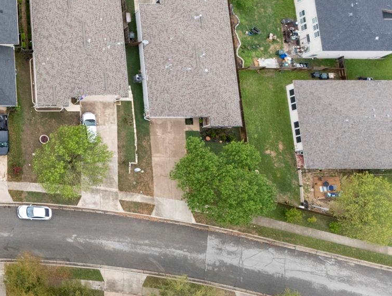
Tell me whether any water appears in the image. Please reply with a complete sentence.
No, there is no water in the image.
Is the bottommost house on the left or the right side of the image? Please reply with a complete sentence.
The bottommost house appears in the right half of the scene.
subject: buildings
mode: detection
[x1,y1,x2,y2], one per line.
[0,0,20,108]
[291,0,392,58]
[133,0,243,127]
[27,0,130,108]
[283,80,392,170]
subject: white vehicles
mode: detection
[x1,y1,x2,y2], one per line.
[84,111,102,146]
[16,204,53,220]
